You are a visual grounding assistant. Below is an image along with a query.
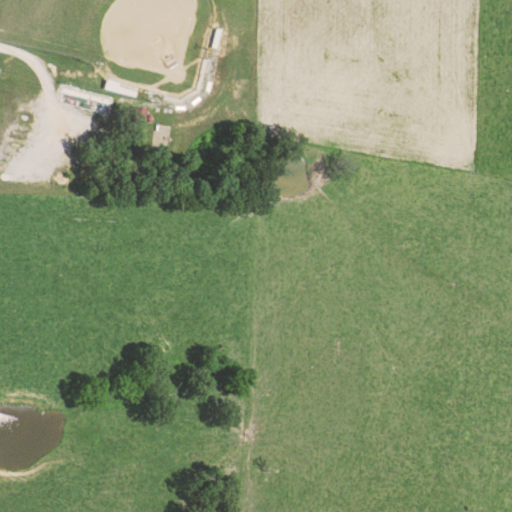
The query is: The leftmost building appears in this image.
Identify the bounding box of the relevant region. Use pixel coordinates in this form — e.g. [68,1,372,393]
[53,84,114,110]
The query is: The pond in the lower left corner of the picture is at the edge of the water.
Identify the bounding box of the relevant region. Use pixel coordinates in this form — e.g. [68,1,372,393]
[0,405,64,469]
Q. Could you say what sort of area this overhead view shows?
farmland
